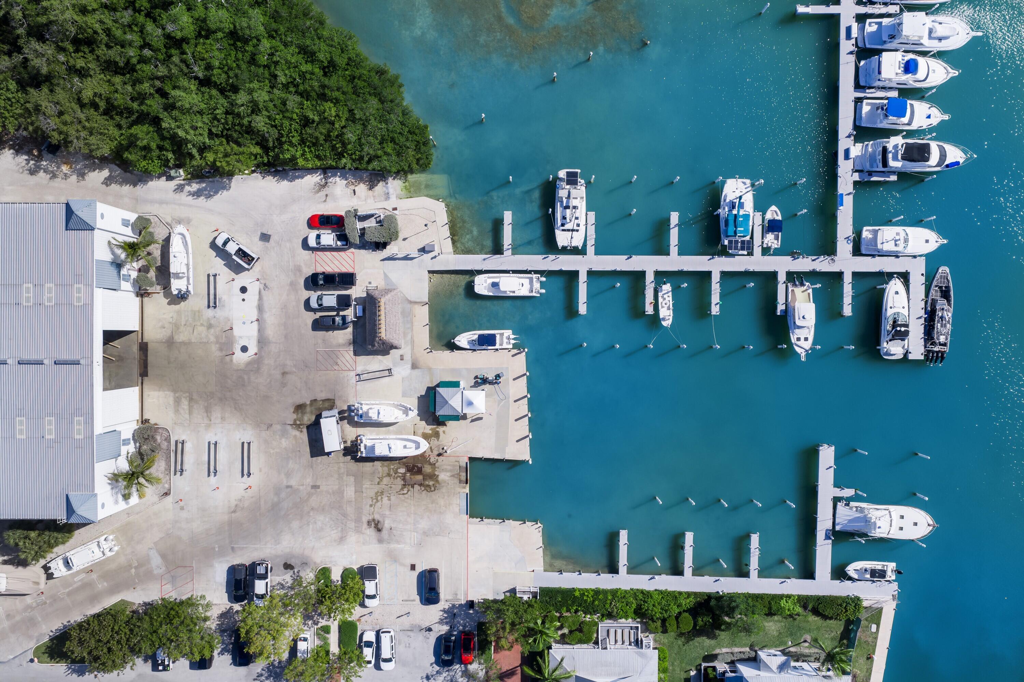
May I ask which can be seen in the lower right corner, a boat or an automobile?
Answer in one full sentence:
The one visible in the lower right corner is a boat.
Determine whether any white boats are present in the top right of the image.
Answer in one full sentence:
Yes, the scene does show a white boat in the top right of the image.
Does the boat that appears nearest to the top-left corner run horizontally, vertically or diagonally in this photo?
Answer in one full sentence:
In this picture, the boat that appears nearest to the top-left corner lies vertically.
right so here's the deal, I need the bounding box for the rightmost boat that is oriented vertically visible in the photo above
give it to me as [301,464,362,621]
[924,266,953,363]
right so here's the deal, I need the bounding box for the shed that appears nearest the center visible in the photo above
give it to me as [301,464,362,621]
[430,381,463,421]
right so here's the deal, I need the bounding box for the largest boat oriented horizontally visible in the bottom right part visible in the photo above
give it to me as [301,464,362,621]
[832,499,939,543]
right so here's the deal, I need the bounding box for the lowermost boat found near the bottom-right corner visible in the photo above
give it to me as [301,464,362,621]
[843,560,903,581]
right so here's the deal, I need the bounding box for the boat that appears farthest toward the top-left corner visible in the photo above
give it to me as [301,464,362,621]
[170,222,195,299]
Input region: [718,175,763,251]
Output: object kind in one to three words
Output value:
boat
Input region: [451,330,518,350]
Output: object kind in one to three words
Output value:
boat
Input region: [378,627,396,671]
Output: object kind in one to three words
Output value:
car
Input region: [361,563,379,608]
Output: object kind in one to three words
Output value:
vehicle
